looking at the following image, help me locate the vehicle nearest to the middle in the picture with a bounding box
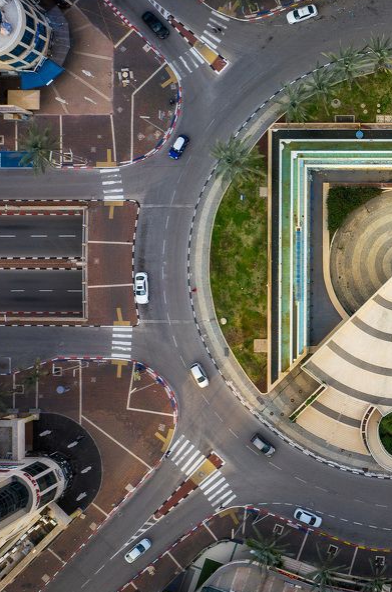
[133,273,148,303]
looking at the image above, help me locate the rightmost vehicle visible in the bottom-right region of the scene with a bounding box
[292,509,322,529]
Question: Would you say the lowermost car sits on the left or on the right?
left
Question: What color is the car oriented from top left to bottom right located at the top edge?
black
